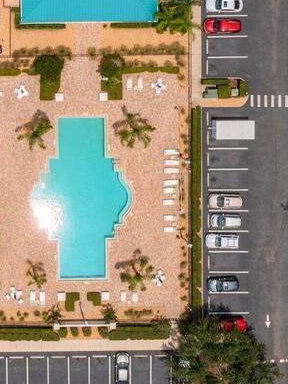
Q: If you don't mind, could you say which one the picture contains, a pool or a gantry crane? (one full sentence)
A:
The one in the frame is a pool.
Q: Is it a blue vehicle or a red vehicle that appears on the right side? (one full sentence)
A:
You can see a red vehicle on the right side.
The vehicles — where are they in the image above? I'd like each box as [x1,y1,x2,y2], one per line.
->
[204,0,242,12]
[206,276,239,292]
[207,193,242,210]
[204,233,239,249]
[115,351,131,384]
[203,18,241,34]
[215,315,250,332]
[209,213,241,229]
